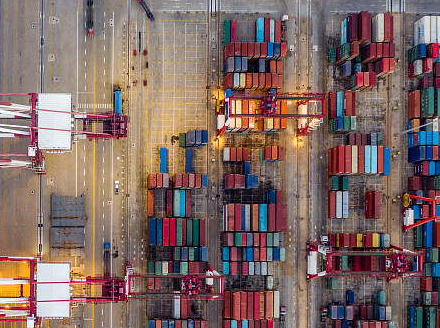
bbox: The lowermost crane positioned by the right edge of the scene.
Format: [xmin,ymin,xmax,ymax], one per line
[302,237,424,286]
